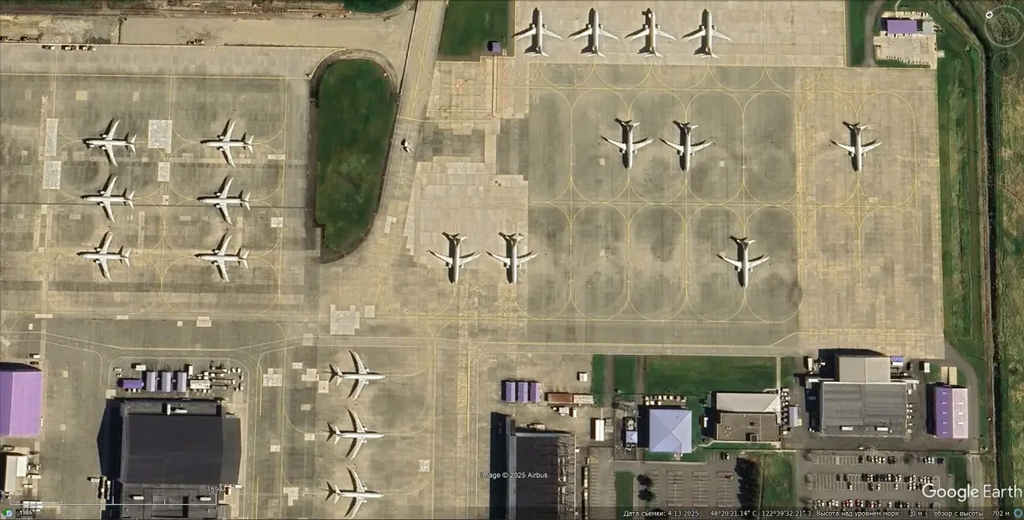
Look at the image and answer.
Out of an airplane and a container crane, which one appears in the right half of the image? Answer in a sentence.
Visible in the right half of the image is an airplane.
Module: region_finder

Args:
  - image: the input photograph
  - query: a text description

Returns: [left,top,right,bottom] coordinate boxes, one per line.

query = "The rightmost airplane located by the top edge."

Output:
[686,8,733,59]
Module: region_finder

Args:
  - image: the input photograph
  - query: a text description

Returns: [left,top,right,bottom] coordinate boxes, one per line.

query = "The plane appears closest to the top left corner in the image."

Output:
[86,120,136,167]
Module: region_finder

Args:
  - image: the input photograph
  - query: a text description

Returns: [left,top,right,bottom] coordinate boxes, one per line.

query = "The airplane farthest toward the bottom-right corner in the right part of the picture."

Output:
[722,236,769,287]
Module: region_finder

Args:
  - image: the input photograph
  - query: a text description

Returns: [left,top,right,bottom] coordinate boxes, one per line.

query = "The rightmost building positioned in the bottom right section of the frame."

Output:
[936,388,969,439]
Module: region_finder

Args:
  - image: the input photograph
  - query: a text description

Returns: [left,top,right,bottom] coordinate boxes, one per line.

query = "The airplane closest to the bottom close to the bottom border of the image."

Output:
[332,471,383,519]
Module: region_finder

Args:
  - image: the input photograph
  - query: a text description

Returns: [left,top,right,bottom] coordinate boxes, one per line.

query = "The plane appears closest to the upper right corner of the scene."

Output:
[836,121,885,172]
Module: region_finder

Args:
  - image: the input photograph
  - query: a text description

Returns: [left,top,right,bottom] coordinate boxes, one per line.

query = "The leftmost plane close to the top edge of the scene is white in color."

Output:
[517,7,565,58]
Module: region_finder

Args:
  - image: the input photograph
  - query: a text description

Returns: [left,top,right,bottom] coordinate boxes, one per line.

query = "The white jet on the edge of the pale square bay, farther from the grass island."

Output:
[491,233,538,283]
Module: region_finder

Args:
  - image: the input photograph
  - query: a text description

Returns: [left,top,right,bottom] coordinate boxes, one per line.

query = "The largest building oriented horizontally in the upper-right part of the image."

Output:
[887,19,918,33]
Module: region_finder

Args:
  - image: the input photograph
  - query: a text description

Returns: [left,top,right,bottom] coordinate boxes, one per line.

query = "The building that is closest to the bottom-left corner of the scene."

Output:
[0,453,36,492]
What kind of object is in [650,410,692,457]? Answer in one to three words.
building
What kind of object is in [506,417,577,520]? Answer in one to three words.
hangar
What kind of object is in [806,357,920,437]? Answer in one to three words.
building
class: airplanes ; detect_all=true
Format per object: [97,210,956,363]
[572,8,621,58]
[334,352,385,401]
[86,120,136,167]
[722,236,769,287]
[431,233,480,284]
[200,176,251,225]
[836,121,885,172]
[83,175,134,222]
[332,412,383,460]
[629,8,678,58]
[664,120,712,171]
[607,118,654,169]
[686,8,733,59]
[197,234,248,282]
[203,120,254,166]
[332,471,383,519]
[517,7,565,58]
[80,232,130,280]
[491,233,538,283]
